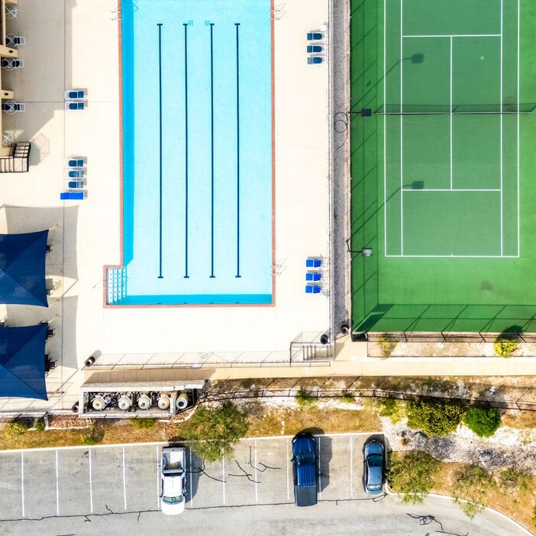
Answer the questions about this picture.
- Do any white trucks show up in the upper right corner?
No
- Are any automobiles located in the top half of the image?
No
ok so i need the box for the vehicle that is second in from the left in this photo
[289,432,319,507]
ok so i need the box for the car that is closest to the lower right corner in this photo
[360,436,388,495]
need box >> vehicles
[289,432,319,507]
[360,436,388,495]
[156,446,186,518]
